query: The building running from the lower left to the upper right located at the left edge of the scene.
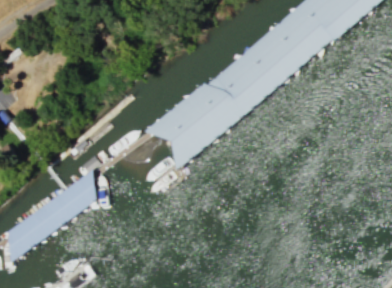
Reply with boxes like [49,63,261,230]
[8,171,97,263]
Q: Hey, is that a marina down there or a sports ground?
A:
marina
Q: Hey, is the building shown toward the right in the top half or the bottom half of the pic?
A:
top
